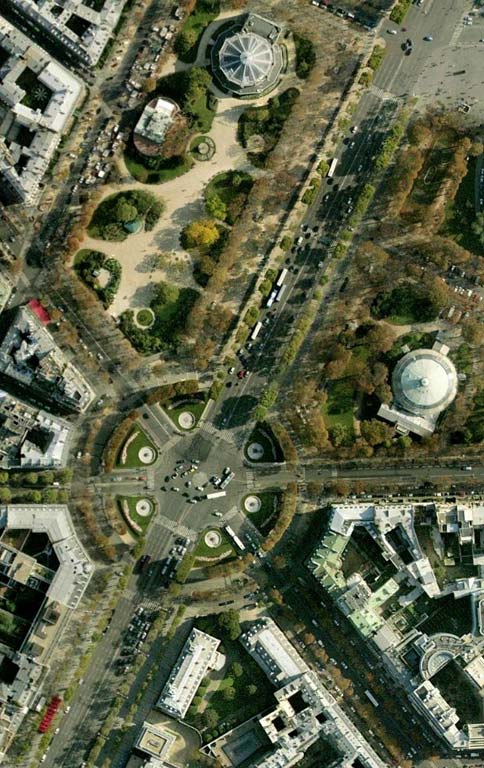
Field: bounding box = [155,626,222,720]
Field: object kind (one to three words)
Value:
house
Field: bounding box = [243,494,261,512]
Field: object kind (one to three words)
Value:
fountain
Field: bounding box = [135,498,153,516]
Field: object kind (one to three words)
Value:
fountain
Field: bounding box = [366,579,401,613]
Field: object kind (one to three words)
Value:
building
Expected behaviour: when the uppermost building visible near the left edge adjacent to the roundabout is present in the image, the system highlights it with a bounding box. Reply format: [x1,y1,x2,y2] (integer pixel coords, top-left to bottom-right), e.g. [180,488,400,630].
[0,298,96,412]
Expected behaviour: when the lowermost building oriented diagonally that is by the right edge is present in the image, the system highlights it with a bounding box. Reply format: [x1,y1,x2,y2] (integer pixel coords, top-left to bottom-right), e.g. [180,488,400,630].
[414,680,469,750]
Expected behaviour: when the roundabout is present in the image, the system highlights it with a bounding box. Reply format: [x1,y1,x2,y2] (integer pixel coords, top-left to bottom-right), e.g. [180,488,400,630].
[104,384,297,578]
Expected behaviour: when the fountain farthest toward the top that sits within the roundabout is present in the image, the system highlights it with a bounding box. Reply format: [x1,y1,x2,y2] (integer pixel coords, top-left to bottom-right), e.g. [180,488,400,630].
[177,411,195,429]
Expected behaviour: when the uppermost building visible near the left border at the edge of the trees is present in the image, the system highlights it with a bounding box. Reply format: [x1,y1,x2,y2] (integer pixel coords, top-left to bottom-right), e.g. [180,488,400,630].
[7,0,129,68]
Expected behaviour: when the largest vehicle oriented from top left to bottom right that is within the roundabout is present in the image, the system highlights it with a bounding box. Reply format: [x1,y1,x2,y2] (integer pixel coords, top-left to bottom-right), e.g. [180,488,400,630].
[226,525,244,550]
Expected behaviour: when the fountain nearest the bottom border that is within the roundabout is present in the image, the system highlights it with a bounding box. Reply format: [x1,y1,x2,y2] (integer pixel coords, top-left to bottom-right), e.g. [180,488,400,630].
[203,530,221,548]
